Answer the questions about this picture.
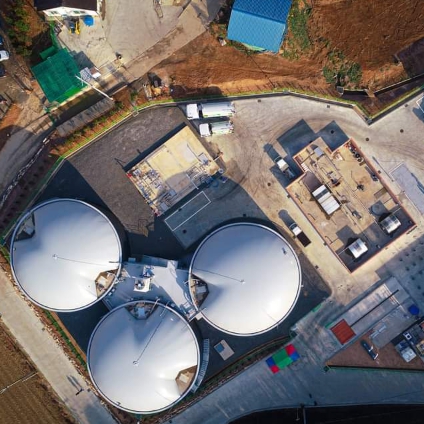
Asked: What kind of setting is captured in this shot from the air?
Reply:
industrial area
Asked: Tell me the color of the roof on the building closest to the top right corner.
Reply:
blue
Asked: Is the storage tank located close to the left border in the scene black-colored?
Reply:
No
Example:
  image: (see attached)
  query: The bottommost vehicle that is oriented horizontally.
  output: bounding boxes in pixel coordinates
[199,121,235,138]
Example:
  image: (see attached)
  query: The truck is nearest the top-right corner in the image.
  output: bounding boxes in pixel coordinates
[274,155,299,182]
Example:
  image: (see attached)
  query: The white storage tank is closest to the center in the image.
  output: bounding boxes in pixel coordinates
[187,222,301,334]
